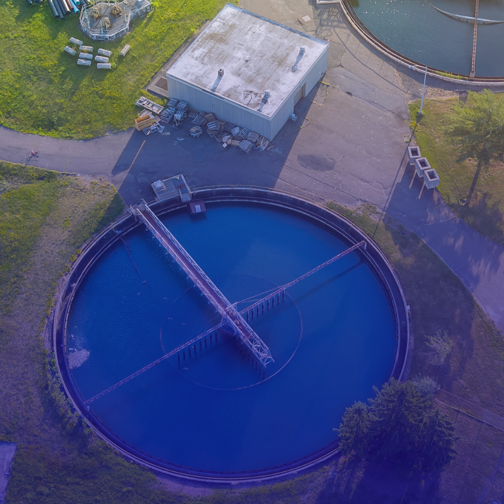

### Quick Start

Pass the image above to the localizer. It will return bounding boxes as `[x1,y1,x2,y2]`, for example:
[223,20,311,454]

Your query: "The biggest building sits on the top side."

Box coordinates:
[164,8,330,140]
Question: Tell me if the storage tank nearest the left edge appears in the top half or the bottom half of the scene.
bottom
